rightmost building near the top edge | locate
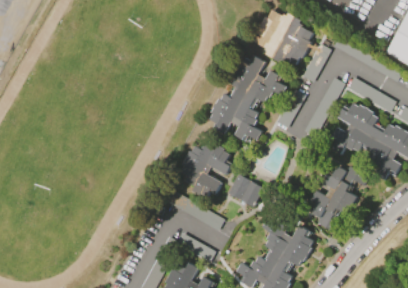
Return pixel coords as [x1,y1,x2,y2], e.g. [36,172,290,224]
[388,14,408,63]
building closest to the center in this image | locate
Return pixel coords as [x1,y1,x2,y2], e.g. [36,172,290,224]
[190,144,231,197]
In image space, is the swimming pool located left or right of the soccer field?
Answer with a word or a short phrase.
to the right of it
